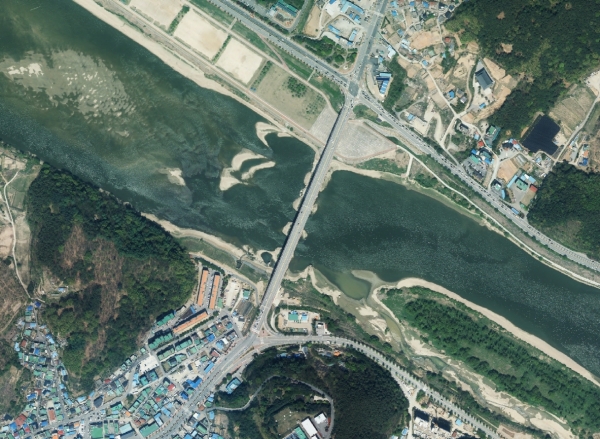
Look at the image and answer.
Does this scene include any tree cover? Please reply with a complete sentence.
Yes, tree cover shows up in the scene.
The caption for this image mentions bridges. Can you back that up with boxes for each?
[254,89,359,329]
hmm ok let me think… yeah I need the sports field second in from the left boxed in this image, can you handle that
[174,9,228,60]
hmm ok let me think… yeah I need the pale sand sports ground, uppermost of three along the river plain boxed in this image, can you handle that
[129,0,184,30]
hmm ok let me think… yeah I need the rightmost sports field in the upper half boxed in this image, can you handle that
[217,38,263,83]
